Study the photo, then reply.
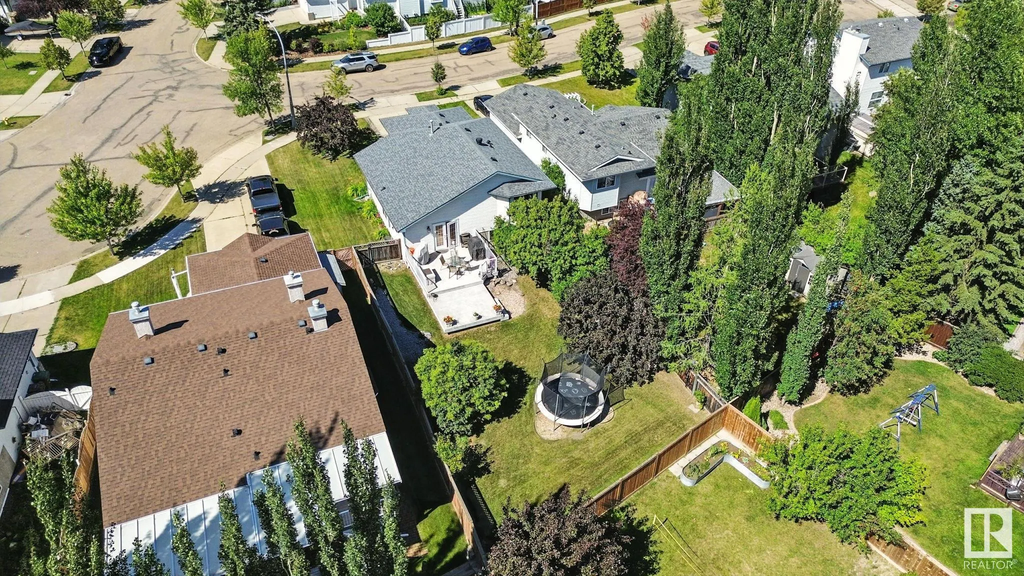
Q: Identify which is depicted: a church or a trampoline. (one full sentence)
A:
Looking from above, you can make out a trampoline.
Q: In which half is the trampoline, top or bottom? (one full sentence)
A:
The trampoline is in the bottom half of the image.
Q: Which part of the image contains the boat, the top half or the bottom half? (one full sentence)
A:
The boat sits in the top half of the picture.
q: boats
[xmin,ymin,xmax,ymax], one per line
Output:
[0,16,68,39]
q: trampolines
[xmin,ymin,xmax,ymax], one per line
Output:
[533,350,608,437]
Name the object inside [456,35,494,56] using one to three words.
car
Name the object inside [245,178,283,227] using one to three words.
truck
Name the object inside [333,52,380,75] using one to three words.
car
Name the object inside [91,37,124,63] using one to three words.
truck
